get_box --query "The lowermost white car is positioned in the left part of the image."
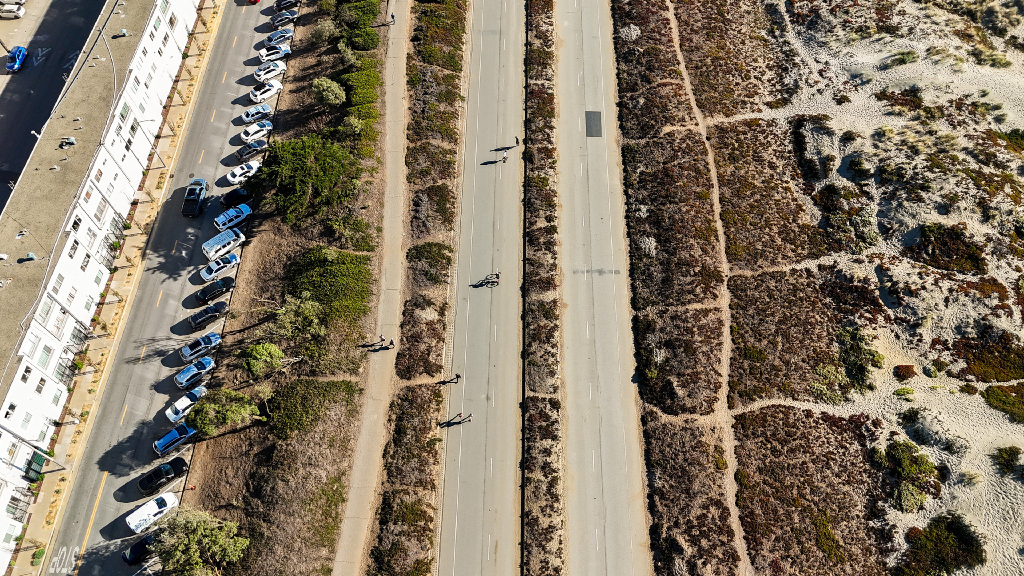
[121,490,182,535]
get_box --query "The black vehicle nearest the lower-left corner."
[117,528,167,568]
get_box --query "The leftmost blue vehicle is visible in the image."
[5,46,31,72]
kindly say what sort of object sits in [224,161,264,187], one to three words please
car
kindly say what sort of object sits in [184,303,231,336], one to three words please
car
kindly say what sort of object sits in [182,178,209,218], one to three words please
truck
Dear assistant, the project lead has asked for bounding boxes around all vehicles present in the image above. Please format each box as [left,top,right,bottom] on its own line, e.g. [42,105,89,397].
[182,178,209,218]
[176,332,224,366]
[217,184,258,210]
[231,137,271,164]
[236,120,275,143]
[238,102,277,126]
[256,43,292,63]
[265,9,300,31]
[0,3,27,19]
[192,279,236,310]
[199,253,242,284]
[121,490,182,535]
[212,204,254,232]
[5,46,31,72]
[262,28,297,47]
[248,79,285,103]
[252,59,289,83]
[150,422,198,459]
[184,303,231,336]
[174,359,218,392]
[117,528,167,568]
[270,0,304,12]
[224,161,264,187]
[162,388,209,423]
[136,458,188,497]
